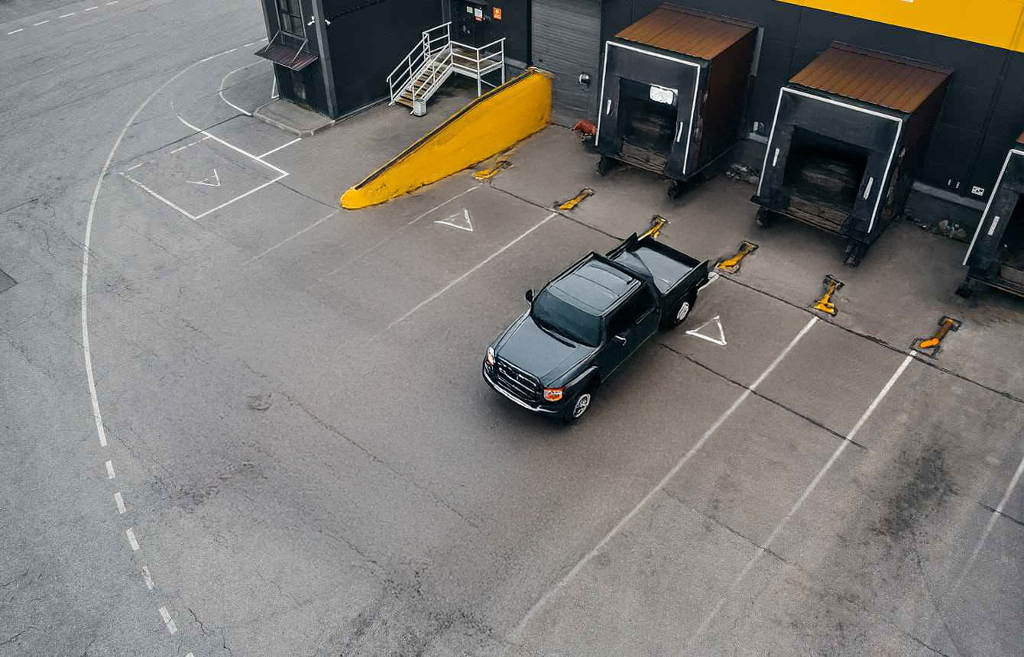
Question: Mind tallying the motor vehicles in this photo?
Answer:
1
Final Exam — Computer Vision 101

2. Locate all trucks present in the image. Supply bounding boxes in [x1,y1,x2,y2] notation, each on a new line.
[479,228,706,424]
